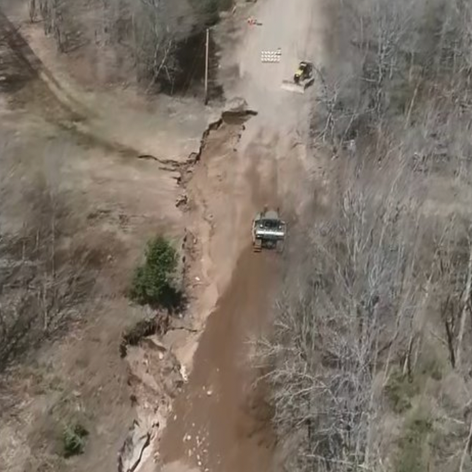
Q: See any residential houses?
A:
No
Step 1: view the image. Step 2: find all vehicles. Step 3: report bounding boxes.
[252,205,285,250]
[286,59,319,93]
